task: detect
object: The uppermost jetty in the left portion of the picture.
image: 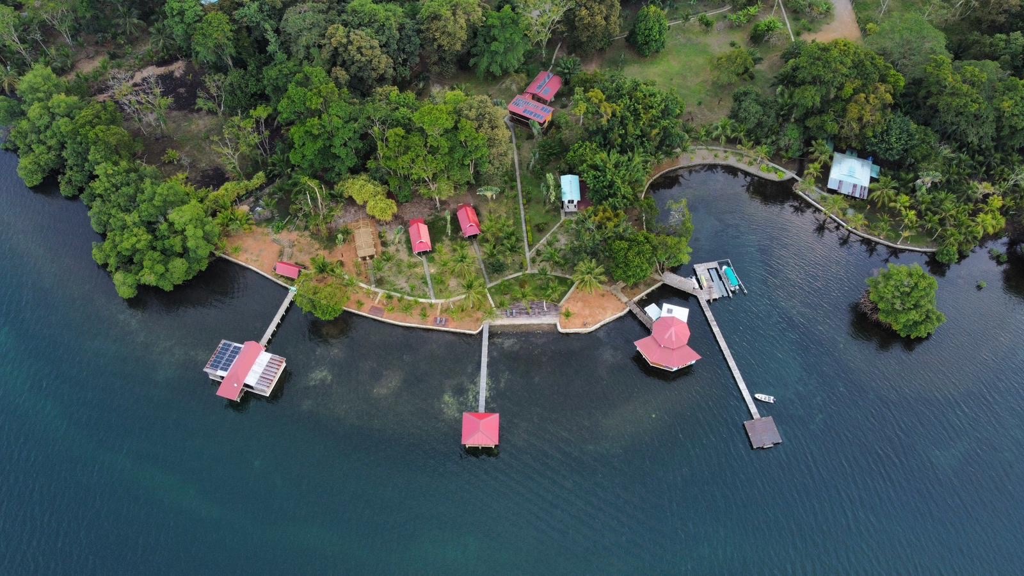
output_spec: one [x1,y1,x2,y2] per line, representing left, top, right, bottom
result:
[260,294,294,347]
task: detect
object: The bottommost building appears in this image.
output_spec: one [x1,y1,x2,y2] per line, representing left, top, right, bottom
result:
[461,412,499,450]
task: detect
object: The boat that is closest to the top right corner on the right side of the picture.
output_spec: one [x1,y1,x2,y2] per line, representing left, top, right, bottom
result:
[723,264,741,292]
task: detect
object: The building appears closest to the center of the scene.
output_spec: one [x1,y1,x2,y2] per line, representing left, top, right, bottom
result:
[456,205,481,245]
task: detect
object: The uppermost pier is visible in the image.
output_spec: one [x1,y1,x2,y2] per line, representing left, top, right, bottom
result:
[662,259,749,302]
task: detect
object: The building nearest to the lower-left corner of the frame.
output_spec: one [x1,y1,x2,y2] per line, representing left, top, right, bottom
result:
[203,340,289,405]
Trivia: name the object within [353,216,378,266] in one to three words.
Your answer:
shed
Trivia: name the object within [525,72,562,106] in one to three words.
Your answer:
house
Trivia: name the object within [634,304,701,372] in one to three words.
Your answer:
building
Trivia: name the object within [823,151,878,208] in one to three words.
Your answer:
house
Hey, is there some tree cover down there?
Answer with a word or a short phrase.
Yes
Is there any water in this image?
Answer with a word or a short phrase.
Yes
